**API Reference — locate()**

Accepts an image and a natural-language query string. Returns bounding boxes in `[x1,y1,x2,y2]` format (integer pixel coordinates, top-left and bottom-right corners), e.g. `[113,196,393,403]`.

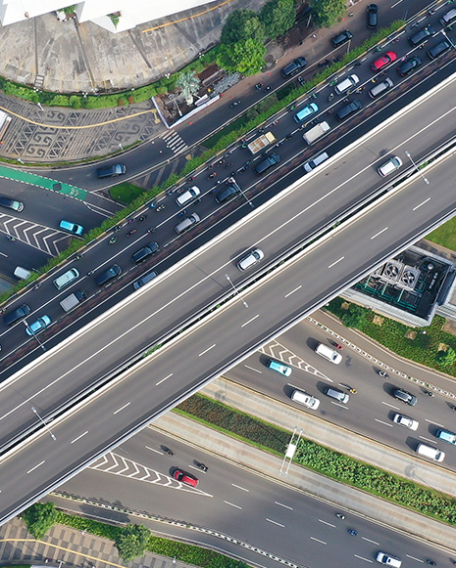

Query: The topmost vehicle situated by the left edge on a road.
[0,195,26,213]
